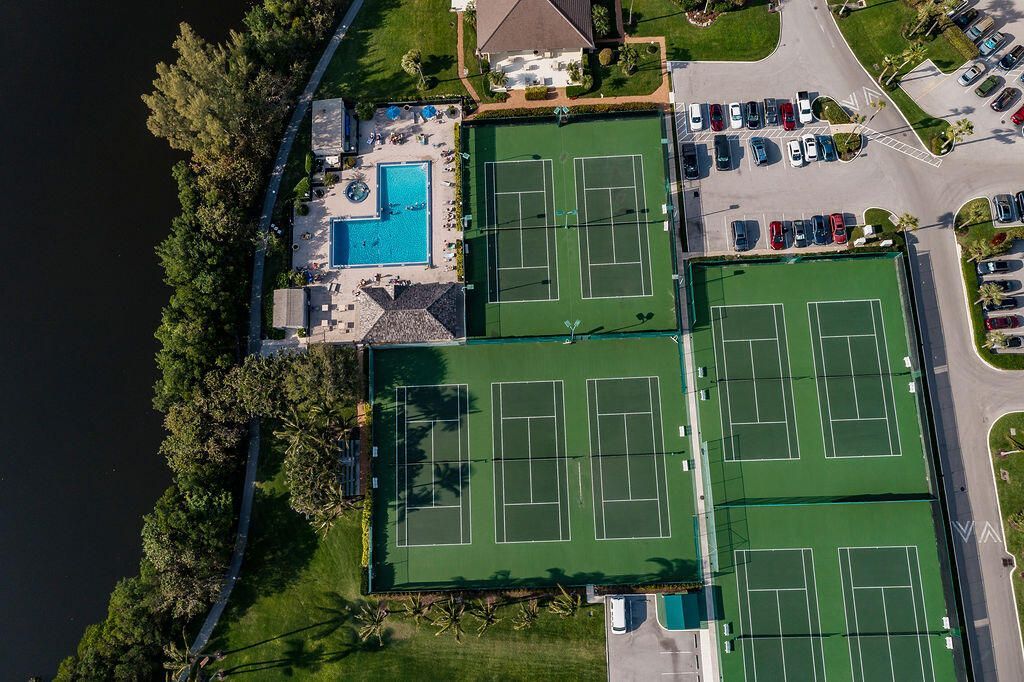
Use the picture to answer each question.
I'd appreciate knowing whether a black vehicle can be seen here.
Yes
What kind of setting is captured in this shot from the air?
sports ground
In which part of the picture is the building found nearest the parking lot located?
top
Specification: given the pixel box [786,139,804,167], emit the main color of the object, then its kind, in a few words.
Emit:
white car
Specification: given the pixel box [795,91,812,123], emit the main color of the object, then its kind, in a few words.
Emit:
white vehicle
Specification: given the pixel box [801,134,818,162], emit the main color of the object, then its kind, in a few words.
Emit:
white car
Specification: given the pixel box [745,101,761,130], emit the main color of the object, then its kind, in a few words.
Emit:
black car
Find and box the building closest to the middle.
[360,283,466,342]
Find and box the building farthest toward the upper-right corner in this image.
[477,0,594,59]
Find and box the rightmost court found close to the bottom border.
[818,502,958,682]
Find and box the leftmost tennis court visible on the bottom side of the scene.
[372,344,485,592]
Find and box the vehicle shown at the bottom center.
[610,594,627,633]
